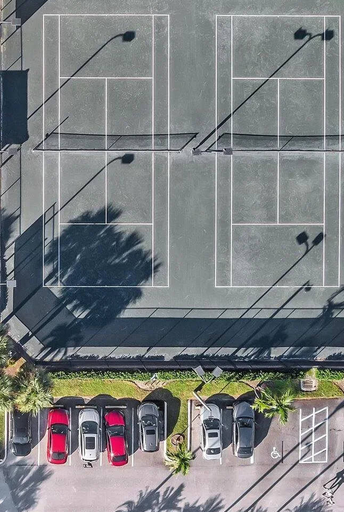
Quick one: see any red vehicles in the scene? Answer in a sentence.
Yes, this view includes a red vehicle.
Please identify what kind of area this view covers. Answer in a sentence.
This image shows a sports ground.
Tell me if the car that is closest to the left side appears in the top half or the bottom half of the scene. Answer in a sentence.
The car that is closest to the left side is in the bottom half of the image.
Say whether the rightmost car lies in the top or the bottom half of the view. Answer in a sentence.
The rightmost car sits in the bottom half of the picture.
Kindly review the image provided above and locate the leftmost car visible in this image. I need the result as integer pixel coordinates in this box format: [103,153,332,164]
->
[9,398,35,456]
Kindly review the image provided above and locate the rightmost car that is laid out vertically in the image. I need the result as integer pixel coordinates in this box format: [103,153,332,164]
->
[230,399,258,458]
